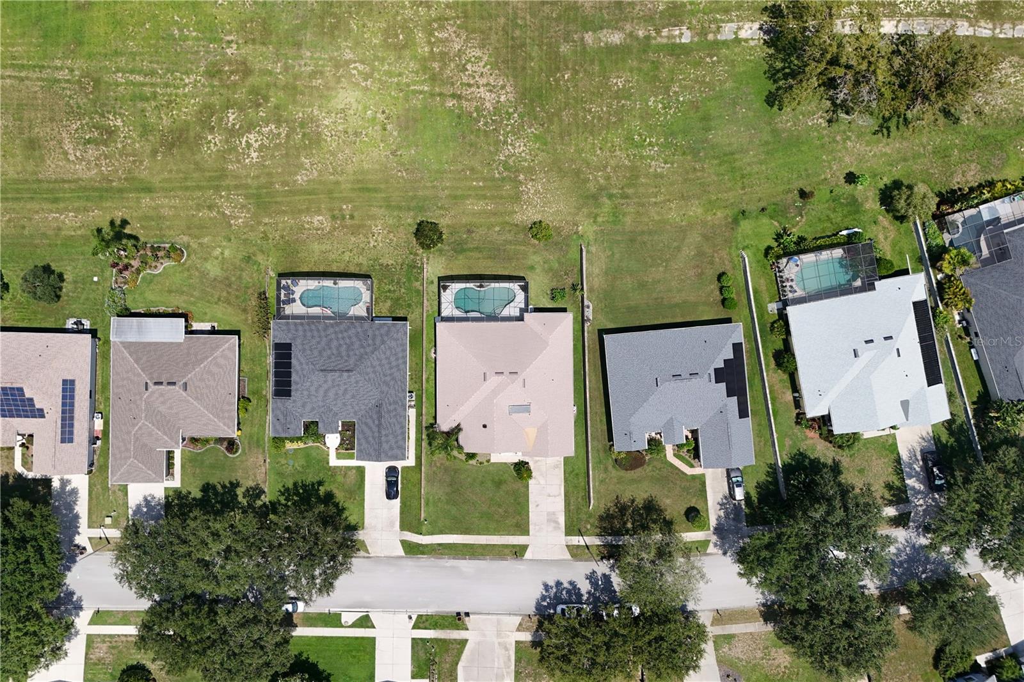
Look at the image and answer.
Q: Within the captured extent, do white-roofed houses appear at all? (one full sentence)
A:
Yes, there's a white-roofed house down there.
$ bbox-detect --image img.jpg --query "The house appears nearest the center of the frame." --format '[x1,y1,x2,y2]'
[435,313,574,459]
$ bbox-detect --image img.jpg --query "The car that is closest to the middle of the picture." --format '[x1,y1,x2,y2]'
[383,467,398,501]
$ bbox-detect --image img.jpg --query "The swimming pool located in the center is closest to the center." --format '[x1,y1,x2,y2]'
[452,285,517,319]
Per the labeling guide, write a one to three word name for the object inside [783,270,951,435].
house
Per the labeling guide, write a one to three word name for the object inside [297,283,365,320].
swimming pool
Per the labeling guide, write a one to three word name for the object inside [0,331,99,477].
house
